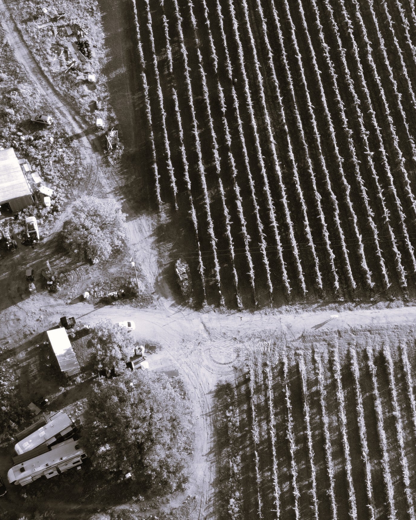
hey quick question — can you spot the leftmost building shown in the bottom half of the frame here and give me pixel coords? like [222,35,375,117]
[47,327,86,385]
